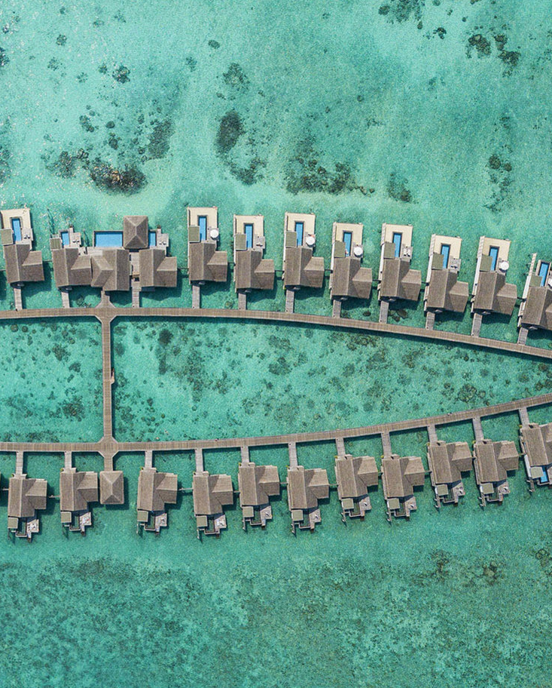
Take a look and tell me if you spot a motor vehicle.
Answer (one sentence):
No, the picture doesn't show any motor vehicle.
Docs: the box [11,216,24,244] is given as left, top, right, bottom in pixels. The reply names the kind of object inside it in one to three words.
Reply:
swimming pool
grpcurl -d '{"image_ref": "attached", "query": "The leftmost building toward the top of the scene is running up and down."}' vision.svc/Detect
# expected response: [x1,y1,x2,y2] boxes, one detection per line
[0,205,44,291]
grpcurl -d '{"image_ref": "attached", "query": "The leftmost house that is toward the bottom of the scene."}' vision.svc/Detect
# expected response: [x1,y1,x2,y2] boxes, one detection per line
[4,471,47,544]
